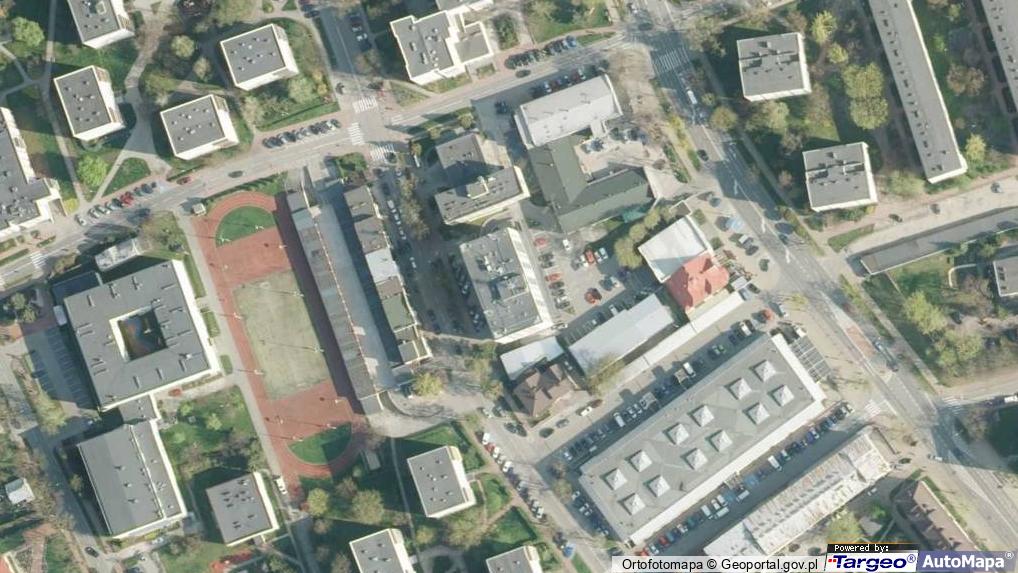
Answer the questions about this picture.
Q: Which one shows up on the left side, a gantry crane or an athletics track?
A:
athletics track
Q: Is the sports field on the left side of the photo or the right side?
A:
left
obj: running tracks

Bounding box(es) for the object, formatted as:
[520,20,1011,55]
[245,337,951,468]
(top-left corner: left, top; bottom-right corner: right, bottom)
[194,190,383,480]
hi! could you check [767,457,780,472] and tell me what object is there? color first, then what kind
white vehicle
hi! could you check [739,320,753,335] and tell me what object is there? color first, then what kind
white vehicle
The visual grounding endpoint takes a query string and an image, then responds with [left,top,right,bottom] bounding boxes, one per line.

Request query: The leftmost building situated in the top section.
[0,106,63,239]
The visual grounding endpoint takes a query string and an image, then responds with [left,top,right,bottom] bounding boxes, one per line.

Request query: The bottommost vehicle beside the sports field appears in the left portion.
[274,475,288,495]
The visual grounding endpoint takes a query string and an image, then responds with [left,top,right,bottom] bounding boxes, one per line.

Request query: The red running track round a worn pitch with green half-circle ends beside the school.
[194,190,383,480]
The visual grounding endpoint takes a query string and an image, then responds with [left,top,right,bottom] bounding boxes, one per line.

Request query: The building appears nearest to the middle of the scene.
[459,229,551,341]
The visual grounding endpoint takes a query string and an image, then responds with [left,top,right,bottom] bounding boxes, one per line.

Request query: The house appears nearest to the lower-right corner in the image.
[898,481,998,573]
